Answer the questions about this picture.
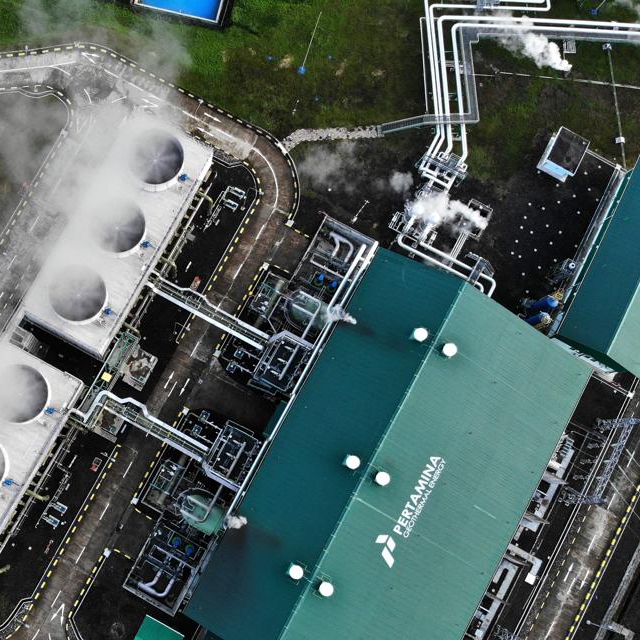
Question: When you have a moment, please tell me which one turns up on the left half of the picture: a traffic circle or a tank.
tank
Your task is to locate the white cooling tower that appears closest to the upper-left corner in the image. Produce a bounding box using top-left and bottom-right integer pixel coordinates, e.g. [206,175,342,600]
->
[20,109,222,379]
